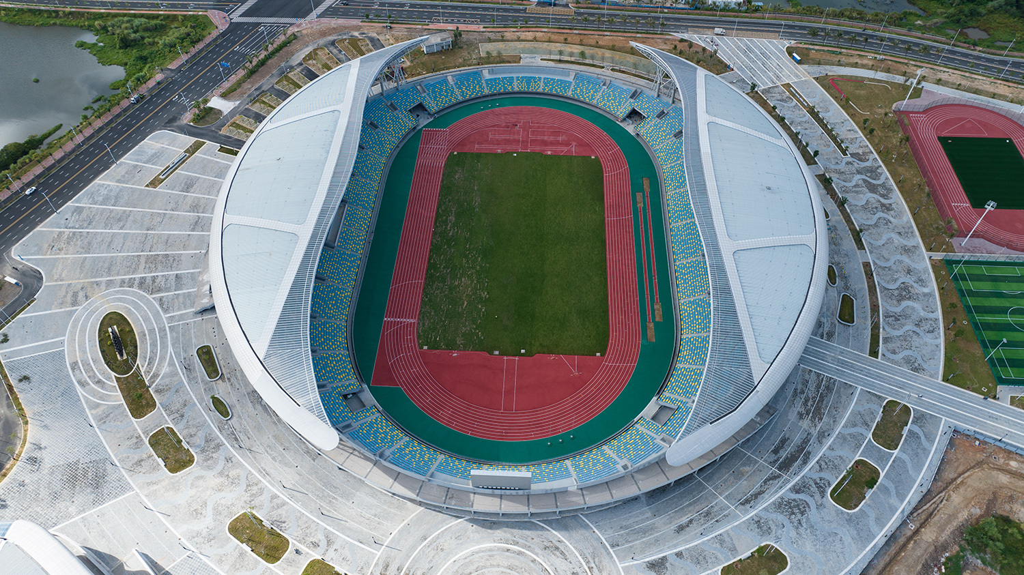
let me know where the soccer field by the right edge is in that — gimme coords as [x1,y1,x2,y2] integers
[951,262,1024,381]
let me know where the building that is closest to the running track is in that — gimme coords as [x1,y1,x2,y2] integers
[420,32,454,61]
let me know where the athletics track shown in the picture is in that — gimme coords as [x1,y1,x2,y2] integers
[385,106,641,441]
